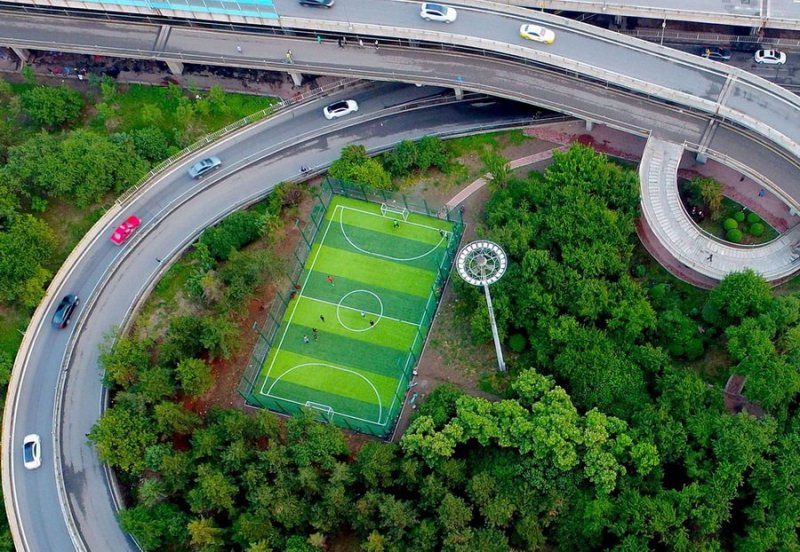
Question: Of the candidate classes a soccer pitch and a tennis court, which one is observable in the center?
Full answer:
The feature located in the center is a soccer pitch.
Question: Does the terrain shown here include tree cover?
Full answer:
Yes, tree cover shows up in the scene.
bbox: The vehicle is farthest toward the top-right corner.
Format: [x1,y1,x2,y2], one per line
[755,49,786,66]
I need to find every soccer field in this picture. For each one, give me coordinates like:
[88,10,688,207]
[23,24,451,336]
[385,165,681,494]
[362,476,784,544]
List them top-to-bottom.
[245,191,466,443]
